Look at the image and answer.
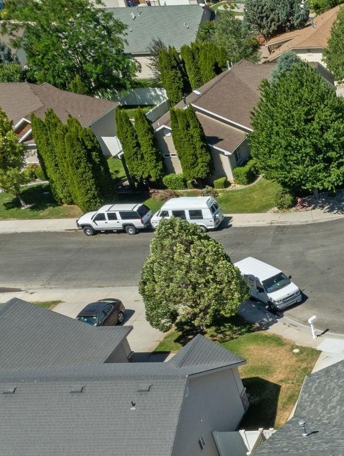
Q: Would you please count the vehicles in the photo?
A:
4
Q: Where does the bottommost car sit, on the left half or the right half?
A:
left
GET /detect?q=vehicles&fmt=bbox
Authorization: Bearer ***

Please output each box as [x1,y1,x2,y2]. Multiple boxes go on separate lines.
[71,203,152,236]
[70,294,134,320]
[233,255,301,309]
[150,196,224,232]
